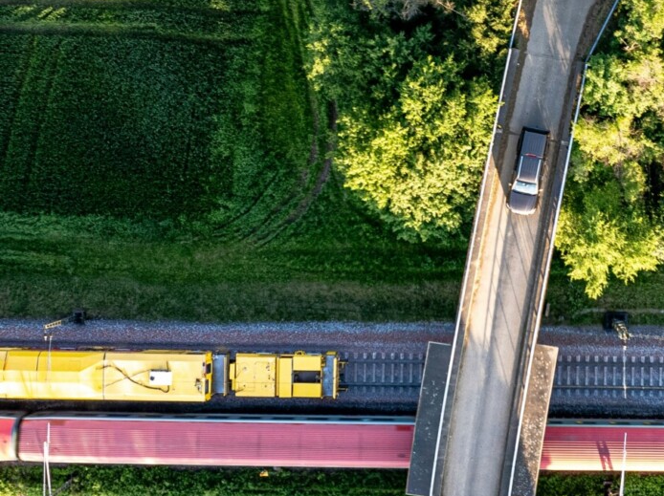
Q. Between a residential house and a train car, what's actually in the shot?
train car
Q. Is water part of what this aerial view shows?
No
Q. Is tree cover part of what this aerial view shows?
Yes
